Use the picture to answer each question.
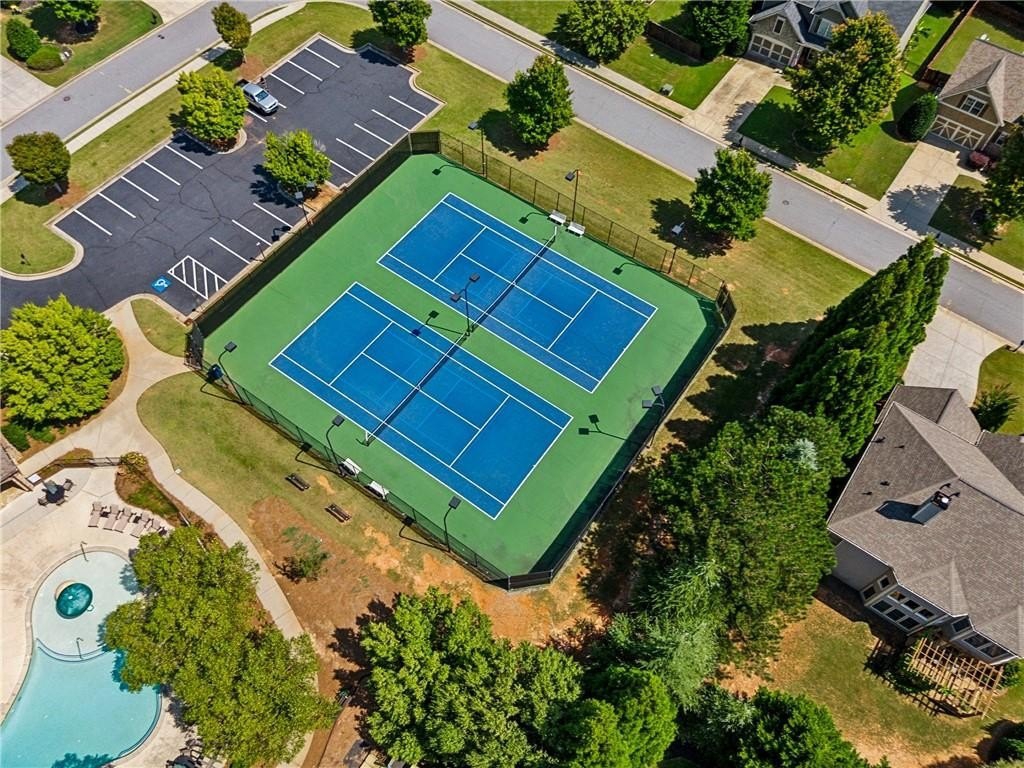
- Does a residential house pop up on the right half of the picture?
Yes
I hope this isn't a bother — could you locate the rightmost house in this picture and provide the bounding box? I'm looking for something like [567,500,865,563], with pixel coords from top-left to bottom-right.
[931,36,1024,155]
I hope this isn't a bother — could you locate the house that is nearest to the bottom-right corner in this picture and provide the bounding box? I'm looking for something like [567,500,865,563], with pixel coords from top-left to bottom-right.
[814,382,1024,686]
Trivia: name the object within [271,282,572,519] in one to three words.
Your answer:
tennis court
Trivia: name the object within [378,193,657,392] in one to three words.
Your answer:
tennis court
